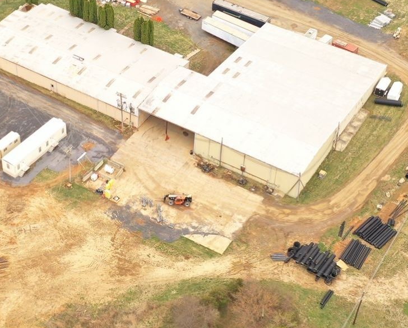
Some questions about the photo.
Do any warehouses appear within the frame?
Yes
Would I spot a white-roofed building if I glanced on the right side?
Yes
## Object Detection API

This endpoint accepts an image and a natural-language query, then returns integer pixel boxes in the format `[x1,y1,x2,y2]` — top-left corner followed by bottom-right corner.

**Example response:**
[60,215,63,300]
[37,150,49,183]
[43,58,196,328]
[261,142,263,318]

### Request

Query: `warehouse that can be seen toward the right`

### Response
[191,21,390,197]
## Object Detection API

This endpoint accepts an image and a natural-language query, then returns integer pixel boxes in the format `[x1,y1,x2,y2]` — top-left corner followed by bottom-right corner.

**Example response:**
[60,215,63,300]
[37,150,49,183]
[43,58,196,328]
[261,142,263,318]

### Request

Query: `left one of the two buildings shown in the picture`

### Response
[0,0,203,126]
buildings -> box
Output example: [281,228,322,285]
[191,21,390,197]
[0,0,203,126]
